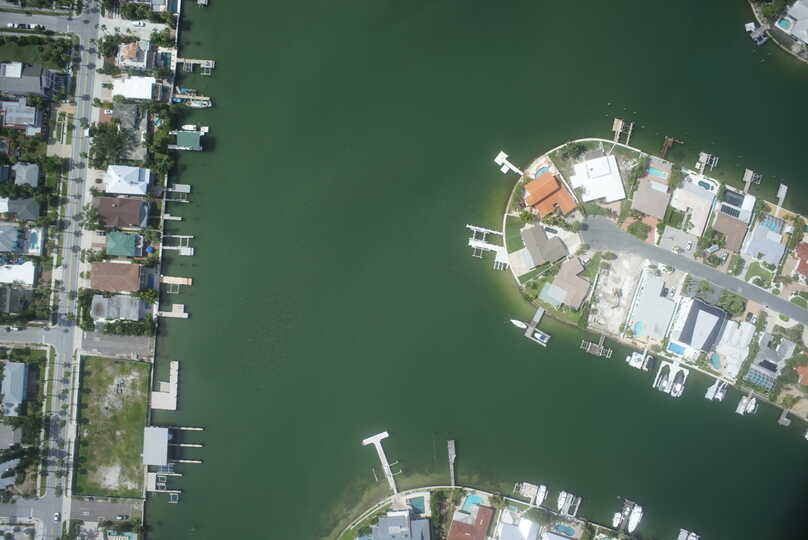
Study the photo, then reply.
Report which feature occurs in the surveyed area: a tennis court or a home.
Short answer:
home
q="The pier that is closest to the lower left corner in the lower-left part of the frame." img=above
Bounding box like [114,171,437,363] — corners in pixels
[146,472,182,494]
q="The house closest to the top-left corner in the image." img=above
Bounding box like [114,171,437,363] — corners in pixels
[0,62,55,96]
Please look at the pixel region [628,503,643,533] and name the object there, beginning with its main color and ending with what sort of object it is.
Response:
white boat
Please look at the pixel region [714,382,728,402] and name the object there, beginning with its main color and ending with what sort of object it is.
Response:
white boat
